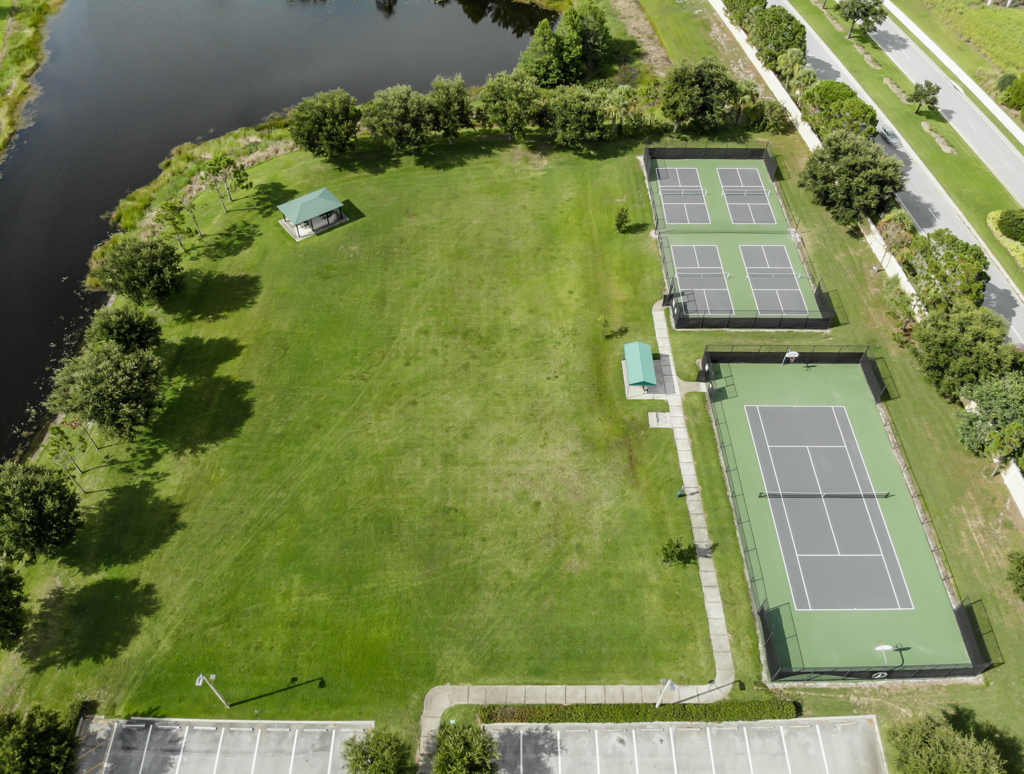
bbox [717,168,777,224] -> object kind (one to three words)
sports court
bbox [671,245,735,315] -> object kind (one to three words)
sports court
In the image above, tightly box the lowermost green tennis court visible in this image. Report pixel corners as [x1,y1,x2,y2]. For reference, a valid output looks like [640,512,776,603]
[703,363,985,684]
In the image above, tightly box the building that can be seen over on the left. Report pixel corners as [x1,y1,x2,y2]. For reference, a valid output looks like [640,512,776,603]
[277,187,349,241]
